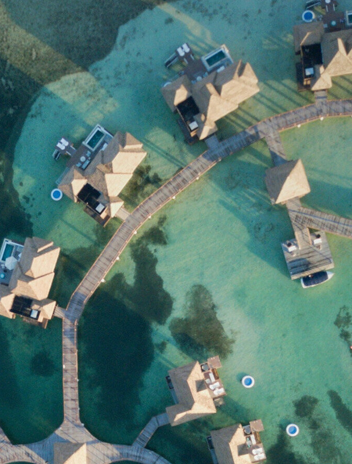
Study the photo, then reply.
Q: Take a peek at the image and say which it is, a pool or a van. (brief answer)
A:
pool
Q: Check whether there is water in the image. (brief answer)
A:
Yes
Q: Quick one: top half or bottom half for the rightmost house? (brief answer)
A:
top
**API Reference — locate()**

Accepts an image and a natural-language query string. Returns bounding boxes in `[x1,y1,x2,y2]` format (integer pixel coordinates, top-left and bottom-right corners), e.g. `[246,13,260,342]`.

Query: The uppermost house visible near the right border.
[289,0,352,101]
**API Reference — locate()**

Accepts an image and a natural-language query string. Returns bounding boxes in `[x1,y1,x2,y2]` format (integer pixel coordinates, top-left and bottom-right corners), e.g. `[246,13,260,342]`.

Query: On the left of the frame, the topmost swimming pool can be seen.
[84,124,115,153]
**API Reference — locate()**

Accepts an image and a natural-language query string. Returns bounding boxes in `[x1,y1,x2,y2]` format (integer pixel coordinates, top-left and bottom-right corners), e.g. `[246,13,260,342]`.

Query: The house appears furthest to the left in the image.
[0,236,61,329]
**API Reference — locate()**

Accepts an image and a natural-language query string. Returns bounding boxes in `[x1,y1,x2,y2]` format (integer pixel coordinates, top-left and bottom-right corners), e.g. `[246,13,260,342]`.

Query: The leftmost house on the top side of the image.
[53,130,147,225]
